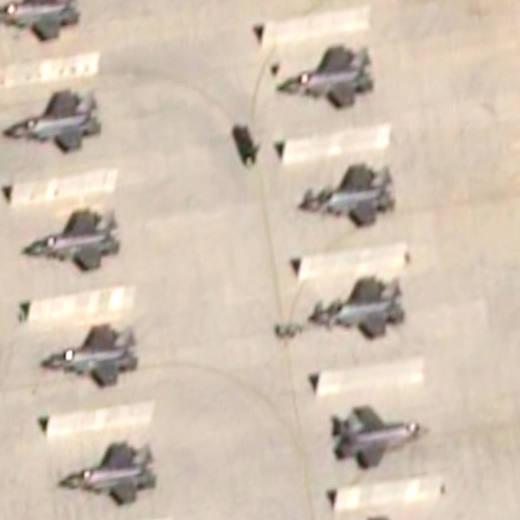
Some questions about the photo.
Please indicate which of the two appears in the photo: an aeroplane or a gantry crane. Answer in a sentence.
The image shows an aeroplane.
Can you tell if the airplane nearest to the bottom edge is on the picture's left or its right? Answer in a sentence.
The airplane nearest to the bottom edge sits on the left side.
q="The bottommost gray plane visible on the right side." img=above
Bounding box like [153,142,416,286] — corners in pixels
[341,406,428,465]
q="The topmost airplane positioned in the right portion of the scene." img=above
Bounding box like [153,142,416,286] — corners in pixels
[284,46,372,105]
